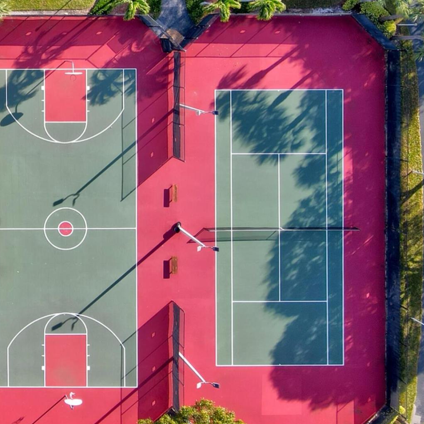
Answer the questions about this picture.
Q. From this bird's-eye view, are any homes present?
No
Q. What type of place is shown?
sports ground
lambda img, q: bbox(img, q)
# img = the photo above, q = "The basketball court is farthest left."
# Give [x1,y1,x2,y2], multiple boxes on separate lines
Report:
[0,69,137,388]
